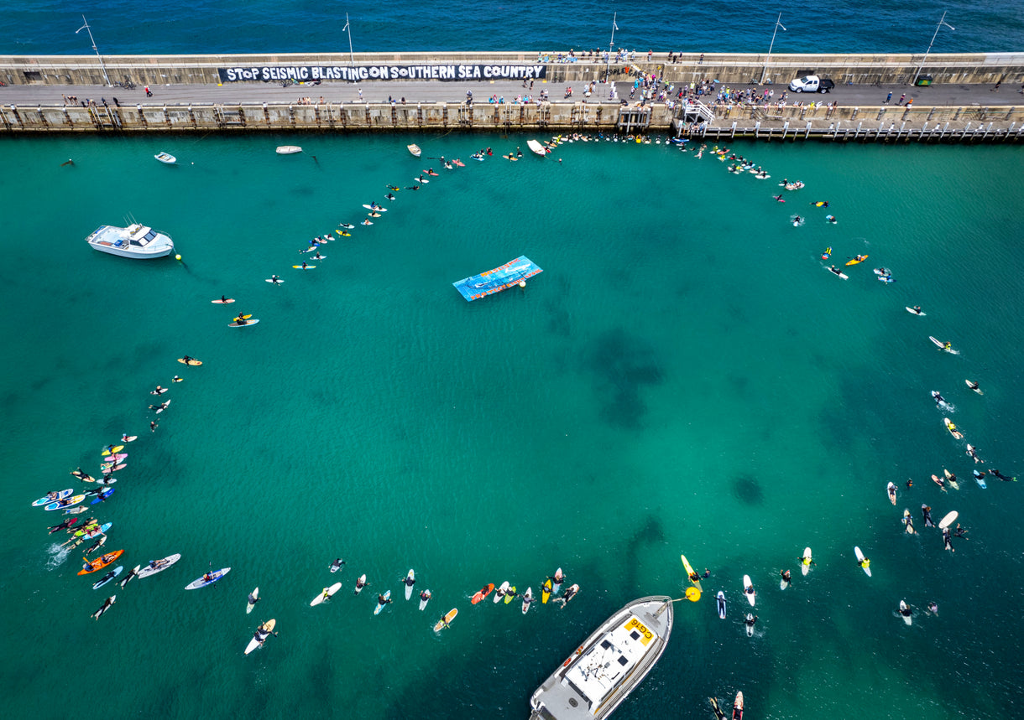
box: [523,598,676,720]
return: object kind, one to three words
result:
boat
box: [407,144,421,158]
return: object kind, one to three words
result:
boat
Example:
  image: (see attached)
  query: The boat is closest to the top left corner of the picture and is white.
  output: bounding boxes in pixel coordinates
[153,152,178,164]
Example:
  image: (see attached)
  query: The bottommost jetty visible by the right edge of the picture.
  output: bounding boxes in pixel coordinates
[672,118,1024,145]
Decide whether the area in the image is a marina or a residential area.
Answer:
marina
